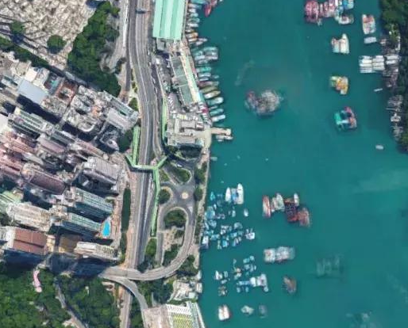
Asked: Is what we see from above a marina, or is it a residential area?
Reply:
marina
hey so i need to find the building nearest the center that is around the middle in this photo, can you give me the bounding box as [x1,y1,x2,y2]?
[166,120,209,146]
